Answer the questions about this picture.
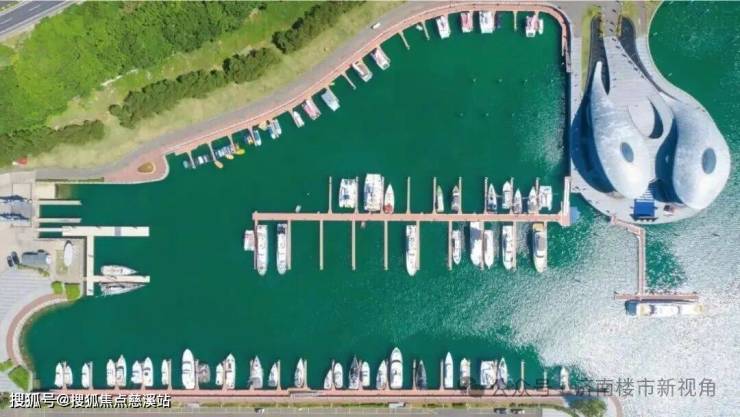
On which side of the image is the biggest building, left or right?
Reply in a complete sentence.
The biggest building appears in the right half of the scene.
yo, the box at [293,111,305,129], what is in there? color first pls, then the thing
white boat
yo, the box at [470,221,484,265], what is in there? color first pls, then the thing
white boat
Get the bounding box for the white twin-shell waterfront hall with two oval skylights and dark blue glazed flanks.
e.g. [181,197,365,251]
[572,36,731,208]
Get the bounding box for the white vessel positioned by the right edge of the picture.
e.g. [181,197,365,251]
[629,302,708,318]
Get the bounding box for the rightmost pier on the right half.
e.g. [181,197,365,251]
[605,212,698,300]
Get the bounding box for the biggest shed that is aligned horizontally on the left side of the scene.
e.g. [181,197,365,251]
[18,251,51,265]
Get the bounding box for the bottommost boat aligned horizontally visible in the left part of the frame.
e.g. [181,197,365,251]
[98,283,142,296]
